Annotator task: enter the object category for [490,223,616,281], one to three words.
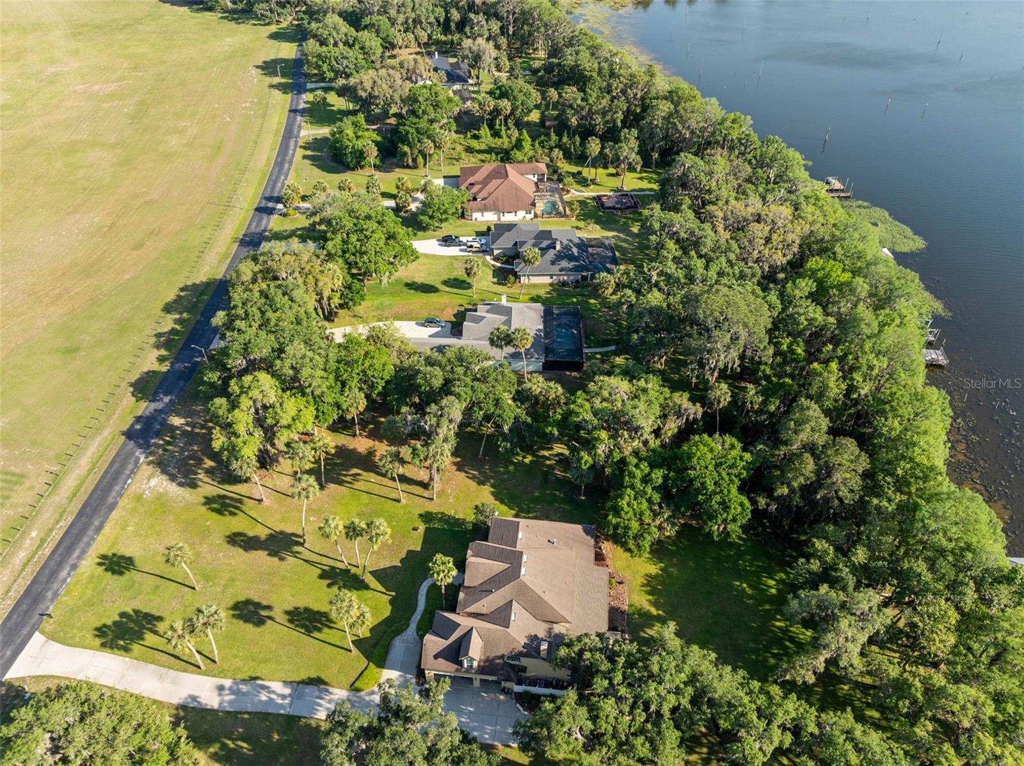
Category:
house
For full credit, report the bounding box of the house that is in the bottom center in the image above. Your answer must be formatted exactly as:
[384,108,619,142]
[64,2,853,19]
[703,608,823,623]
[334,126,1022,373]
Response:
[422,516,609,690]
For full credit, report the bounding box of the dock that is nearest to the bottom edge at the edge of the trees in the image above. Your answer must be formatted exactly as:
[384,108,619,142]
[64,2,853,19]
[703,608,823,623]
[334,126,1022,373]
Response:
[922,319,949,368]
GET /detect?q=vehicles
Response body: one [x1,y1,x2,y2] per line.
[446,239,464,246]
[466,243,487,251]
[424,316,446,327]
[466,236,483,244]
[442,234,459,242]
